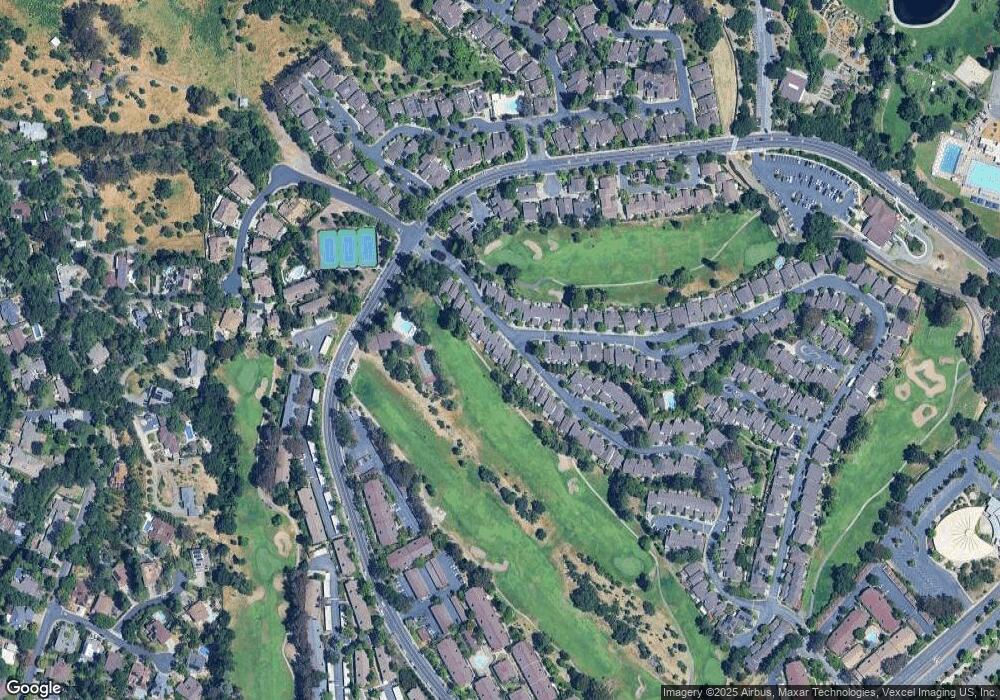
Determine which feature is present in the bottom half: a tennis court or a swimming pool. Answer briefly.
swimming pool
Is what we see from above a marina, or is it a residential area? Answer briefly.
residential area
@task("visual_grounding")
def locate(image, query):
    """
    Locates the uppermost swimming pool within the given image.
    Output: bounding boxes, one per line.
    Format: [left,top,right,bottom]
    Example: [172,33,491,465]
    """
[492,92,524,119]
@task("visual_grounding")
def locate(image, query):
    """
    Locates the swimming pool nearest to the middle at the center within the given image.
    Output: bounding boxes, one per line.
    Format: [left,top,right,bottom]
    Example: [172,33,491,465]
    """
[393,312,416,338]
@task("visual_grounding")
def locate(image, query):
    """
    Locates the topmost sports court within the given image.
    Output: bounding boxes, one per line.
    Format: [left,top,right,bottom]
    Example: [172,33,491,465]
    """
[954,57,991,87]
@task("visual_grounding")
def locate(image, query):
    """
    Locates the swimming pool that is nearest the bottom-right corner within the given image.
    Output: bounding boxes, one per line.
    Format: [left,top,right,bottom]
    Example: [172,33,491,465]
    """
[863,625,883,647]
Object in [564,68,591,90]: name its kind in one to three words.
house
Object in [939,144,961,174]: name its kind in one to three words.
swimming pool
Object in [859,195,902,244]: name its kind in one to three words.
building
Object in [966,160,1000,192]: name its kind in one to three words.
swimming pool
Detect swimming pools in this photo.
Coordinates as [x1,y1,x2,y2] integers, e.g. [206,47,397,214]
[143,515,153,530]
[184,419,196,442]
[663,391,678,411]
[468,647,494,675]
[939,144,961,174]
[966,160,1000,192]
[32,322,44,340]
[153,611,166,624]
[774,256,785,269]
[286,266,306,279]
[393,312,416,338]
[492,92,524,119]
[863,625,883,647]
